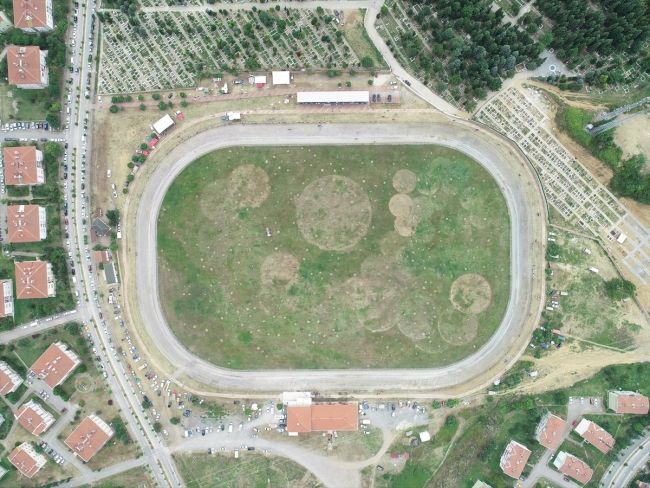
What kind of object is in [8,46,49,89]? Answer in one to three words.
building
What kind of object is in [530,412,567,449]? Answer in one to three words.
building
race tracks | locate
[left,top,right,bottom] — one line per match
[126,112,542,395]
